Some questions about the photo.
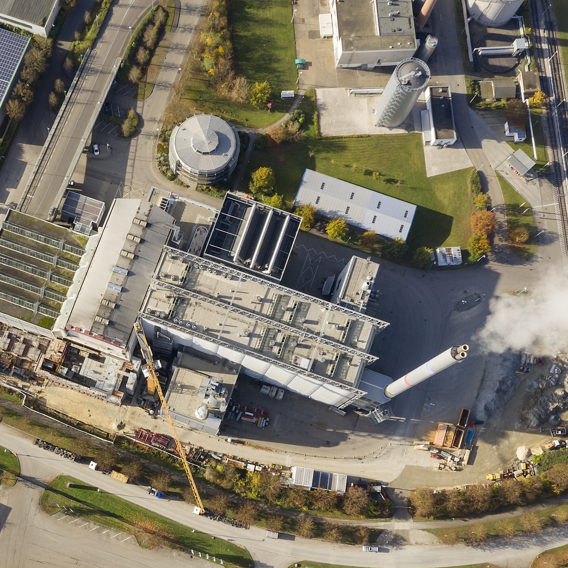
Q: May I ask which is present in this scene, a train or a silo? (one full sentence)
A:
It is a silo that can be seen here.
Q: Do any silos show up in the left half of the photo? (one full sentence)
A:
No, the scene shows no silo in the left half of the photo.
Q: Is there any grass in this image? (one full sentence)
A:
Yes, there is grass in the image.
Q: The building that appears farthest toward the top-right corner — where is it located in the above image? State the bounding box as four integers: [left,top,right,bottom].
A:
[511,35,533,61]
